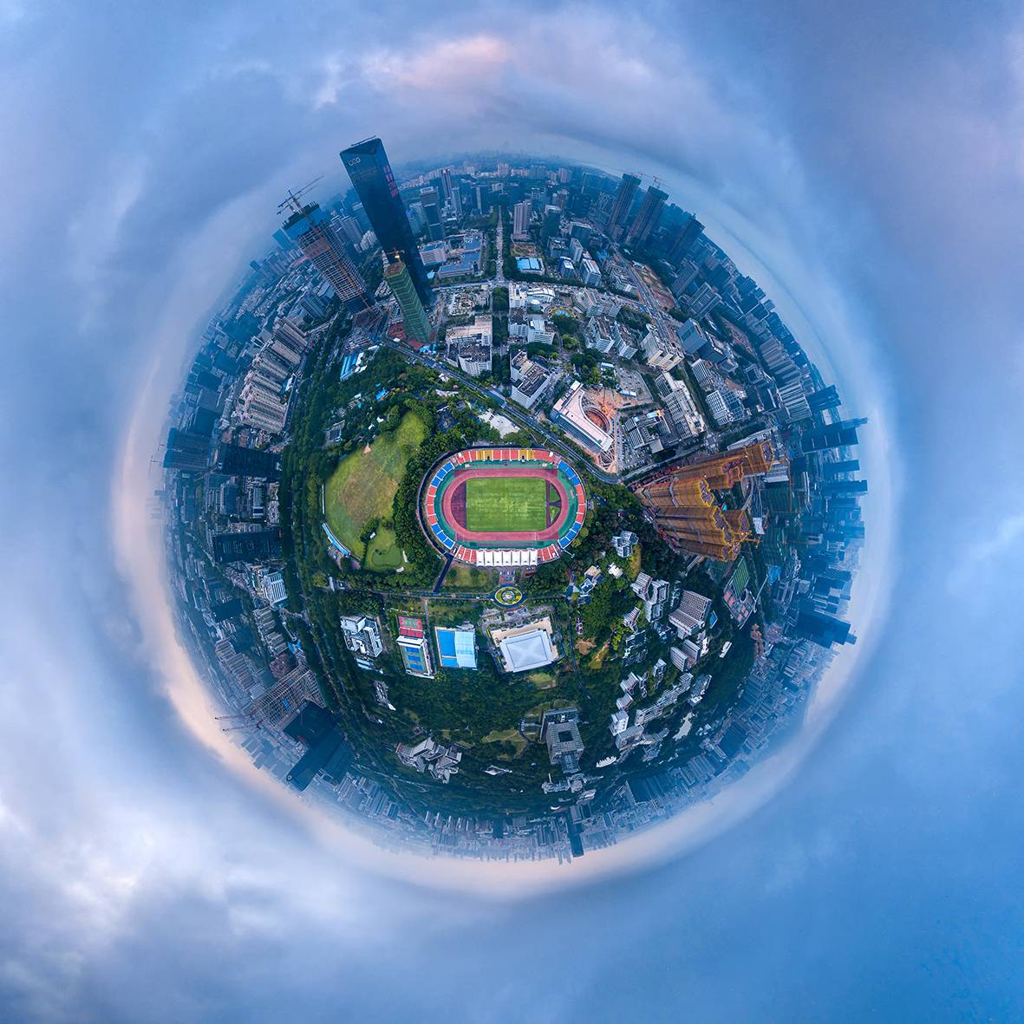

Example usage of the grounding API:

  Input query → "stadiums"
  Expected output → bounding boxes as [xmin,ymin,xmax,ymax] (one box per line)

[427,447,586,567]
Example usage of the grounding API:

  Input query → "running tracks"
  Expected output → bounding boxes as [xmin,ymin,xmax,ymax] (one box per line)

[446,470,567,539]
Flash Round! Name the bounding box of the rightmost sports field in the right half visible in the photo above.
[722,563,761,629]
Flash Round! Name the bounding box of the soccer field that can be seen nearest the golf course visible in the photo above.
[468,479,545,531]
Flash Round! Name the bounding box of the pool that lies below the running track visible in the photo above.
[435,627,460,668]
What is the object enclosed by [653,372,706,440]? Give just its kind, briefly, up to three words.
building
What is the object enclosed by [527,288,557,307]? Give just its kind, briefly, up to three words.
building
